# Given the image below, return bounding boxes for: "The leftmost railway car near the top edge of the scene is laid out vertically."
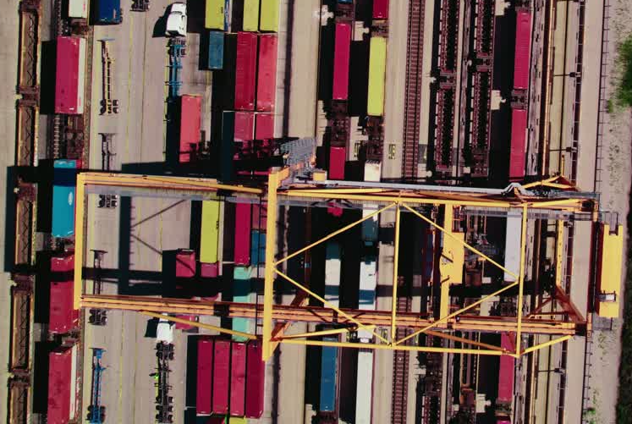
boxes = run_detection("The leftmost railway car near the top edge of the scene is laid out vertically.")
[19,0,43,95]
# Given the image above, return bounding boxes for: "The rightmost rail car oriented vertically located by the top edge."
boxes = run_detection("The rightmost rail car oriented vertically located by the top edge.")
[509,0,532,97]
